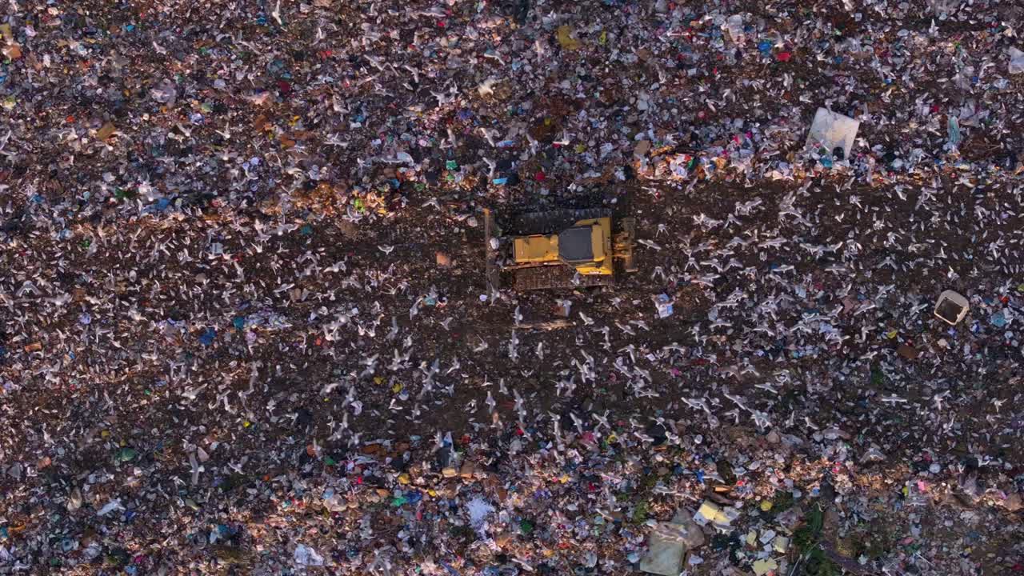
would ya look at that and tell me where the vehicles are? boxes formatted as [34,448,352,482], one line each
[472,205,643,303]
